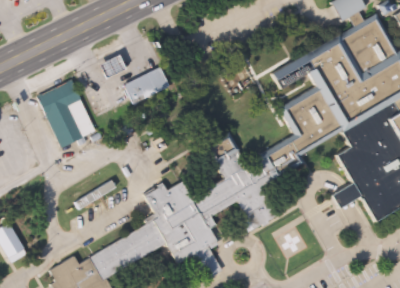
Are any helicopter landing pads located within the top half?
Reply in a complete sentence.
No, there is no helicopter landing pad within the top half.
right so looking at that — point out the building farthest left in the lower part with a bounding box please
[0,228,26,262]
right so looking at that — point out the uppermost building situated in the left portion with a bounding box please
[123,68,169,104]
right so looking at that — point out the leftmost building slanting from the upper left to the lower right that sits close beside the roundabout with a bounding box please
[142,182,222,277]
